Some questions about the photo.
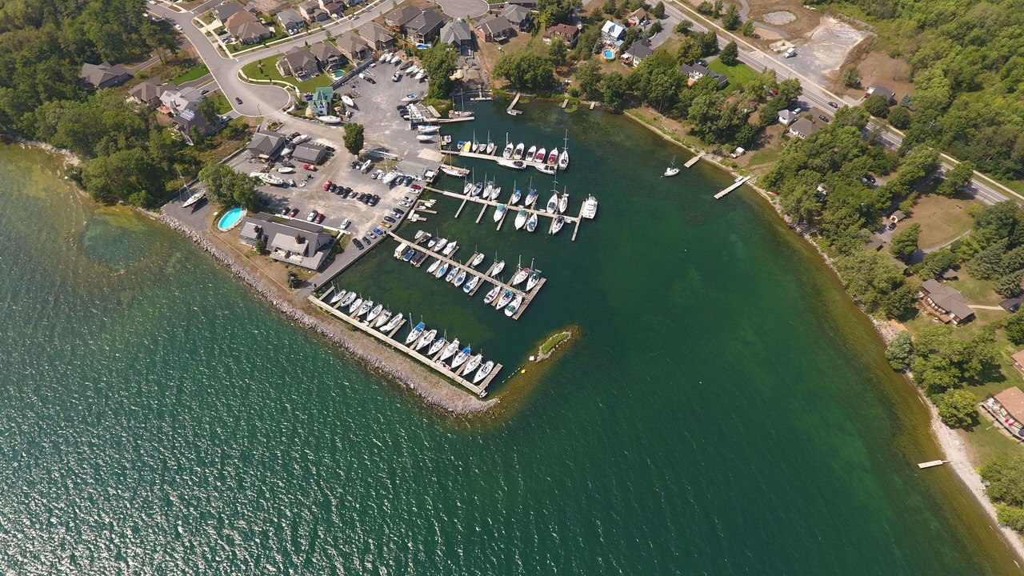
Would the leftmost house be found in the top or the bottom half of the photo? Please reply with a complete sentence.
You can find the leftmost house in the top half.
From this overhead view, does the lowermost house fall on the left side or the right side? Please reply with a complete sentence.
It is on the right.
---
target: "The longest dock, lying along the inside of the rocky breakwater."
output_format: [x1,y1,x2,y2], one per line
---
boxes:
[307,284,505,394]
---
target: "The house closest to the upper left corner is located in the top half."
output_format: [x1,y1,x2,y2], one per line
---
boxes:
[77,55,132,91]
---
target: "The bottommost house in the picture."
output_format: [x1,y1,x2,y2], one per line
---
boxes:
[982,389,1024,441]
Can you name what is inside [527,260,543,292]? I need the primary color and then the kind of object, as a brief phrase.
white boat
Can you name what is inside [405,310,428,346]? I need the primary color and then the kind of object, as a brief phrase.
white boat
